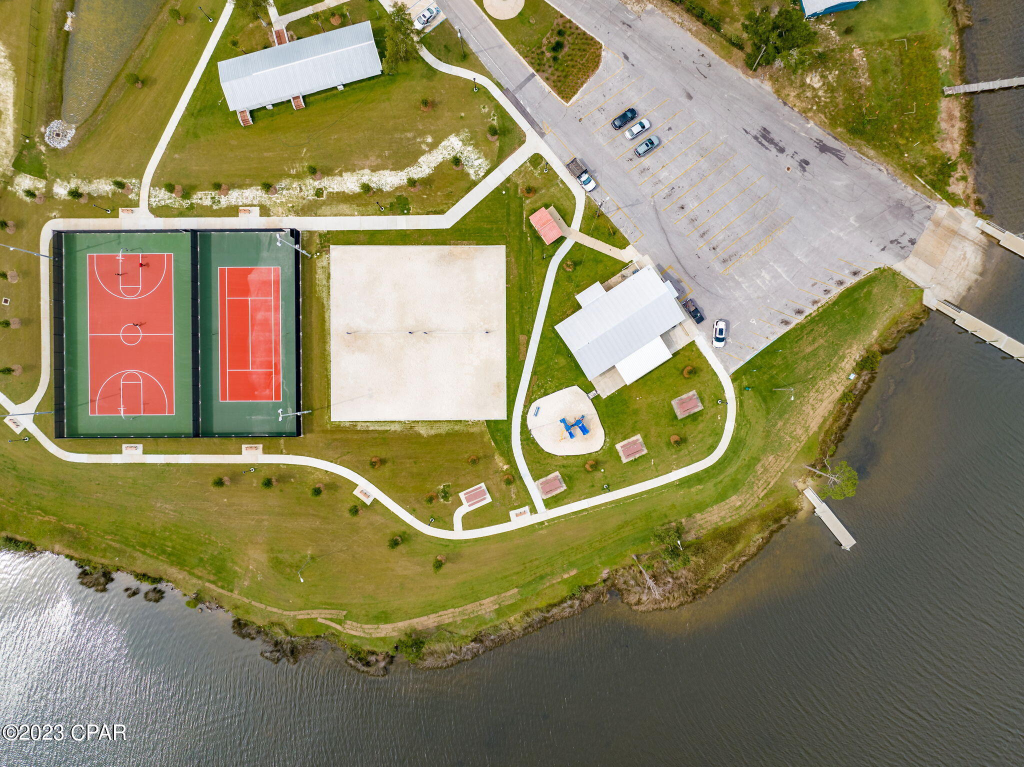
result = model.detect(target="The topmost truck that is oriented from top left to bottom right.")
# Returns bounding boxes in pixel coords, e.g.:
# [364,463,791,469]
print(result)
[566,156,596,193]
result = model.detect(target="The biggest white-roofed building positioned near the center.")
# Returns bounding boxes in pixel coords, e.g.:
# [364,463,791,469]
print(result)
[554,264,685,385]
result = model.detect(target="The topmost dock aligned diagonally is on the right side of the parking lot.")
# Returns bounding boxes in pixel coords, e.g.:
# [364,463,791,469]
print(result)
[975,219,1024,259]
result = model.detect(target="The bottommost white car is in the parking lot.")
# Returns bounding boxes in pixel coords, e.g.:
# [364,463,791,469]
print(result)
[712,319,727,348]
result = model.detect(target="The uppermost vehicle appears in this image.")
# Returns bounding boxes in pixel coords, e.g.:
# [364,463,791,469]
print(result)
[414,6,440,30]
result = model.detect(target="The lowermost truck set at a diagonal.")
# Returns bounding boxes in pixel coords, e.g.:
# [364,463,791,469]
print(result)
[681,296,706,325]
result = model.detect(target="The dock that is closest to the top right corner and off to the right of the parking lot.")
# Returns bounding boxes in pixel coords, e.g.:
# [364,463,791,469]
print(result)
[941,77,1024,98]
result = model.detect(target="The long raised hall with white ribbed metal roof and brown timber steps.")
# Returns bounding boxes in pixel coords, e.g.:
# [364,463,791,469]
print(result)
[218,20,382,126]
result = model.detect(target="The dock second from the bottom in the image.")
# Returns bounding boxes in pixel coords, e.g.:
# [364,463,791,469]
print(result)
[941,300,1024,362]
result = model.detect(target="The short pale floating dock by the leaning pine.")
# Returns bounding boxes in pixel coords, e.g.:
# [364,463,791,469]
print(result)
[803,486,856,550]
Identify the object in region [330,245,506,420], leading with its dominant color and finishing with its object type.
white sports court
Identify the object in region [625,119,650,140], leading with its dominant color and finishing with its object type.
white car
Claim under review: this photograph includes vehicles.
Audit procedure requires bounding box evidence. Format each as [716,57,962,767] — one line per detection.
[625,119,650,140]
[566,156,596,193]
[611,107,638,130]
[634,136,660,158]
[414,6,440,30]
[712,319,727,348]
[681,296,706,325]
